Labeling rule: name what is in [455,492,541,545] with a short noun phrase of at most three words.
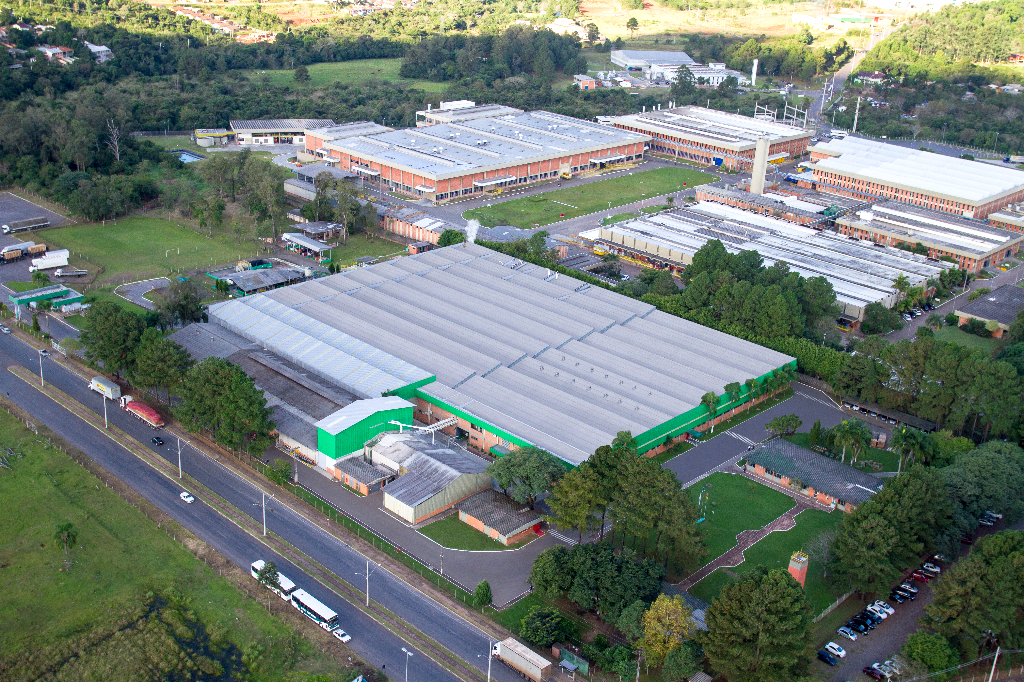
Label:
building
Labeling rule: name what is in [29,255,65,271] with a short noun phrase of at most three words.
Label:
vehicle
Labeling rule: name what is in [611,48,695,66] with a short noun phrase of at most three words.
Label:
building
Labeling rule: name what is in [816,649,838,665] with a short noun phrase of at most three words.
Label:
car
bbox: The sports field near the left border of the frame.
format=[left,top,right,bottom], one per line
[22,216,249,280]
